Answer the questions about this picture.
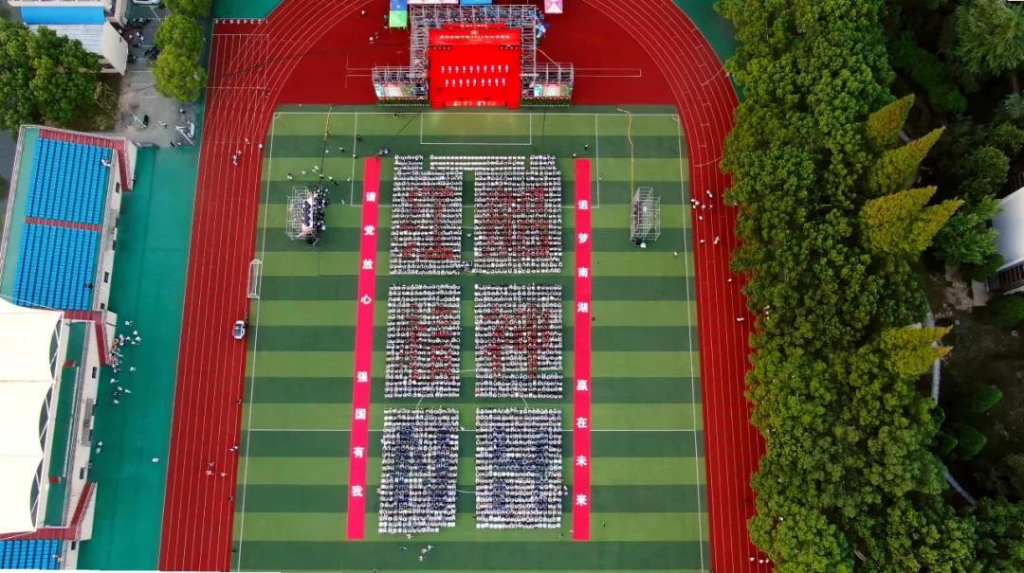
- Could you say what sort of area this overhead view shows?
sports ground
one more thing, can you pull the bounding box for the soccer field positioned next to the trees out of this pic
[230,105,711,573]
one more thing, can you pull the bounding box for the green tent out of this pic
[389,13,409,37]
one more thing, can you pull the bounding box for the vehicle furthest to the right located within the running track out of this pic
[232,319,247,340]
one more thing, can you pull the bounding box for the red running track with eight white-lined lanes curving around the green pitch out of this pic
[157,0,777,573]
